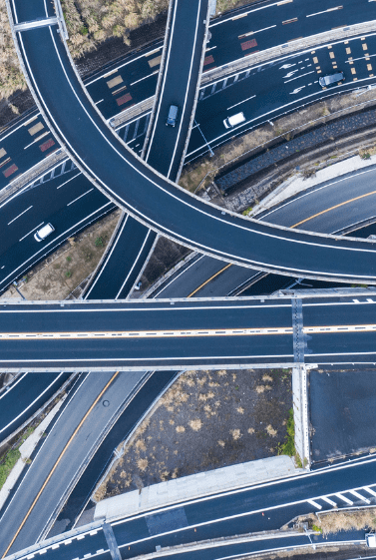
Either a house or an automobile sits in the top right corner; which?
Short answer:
automobile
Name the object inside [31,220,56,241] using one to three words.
car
